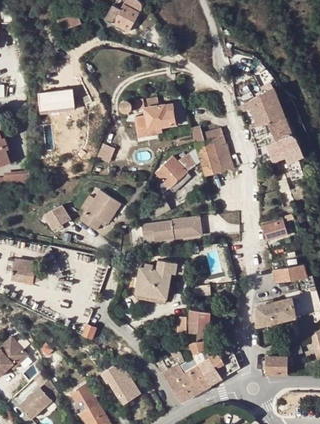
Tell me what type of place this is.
residential area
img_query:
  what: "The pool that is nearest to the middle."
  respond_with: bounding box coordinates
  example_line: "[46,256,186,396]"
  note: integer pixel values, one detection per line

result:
[132,148,155,166]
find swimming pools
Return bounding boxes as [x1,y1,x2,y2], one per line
[132,148,155,166]
[198,245,233,284]
[38,416,56,424]
[44,124,55,152]
[23,364,39,382]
